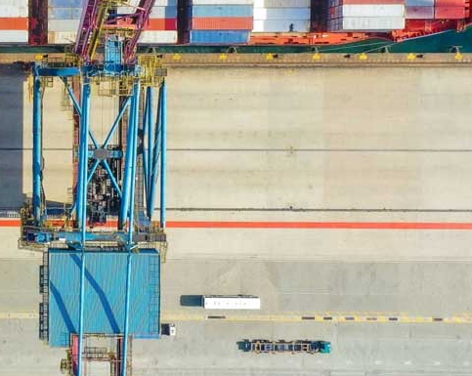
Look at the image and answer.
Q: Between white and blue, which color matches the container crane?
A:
blue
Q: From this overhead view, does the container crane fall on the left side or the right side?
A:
left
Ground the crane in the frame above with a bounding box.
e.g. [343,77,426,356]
[12,0,176,376]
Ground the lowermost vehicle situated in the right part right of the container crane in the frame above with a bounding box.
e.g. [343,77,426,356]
[244,339,330,353]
